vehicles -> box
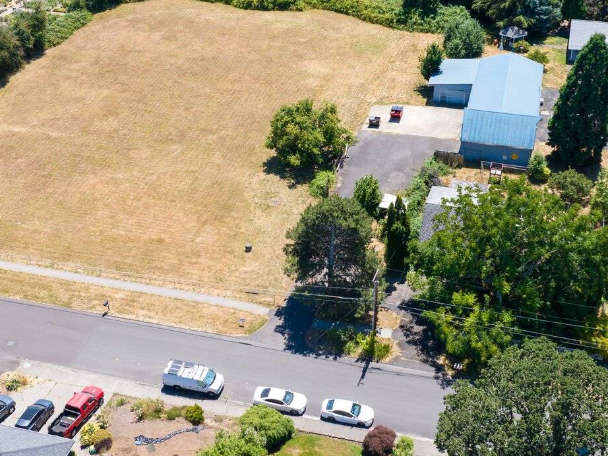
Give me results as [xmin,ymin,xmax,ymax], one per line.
[13,394,57,433]
[50,388,101,440]
[252,387,307,415]
[161,358,224,397]
[0,392,15,417]
[319,399,375,428]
